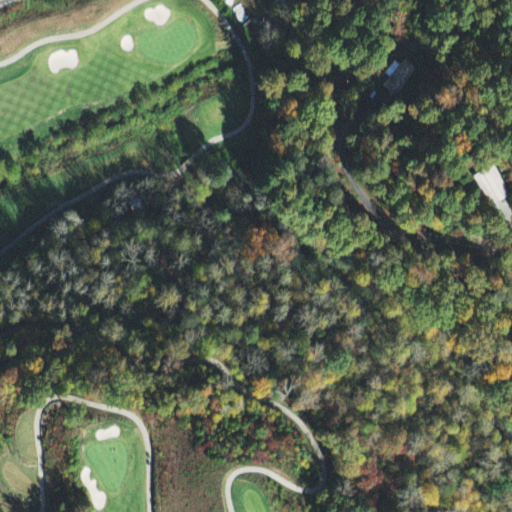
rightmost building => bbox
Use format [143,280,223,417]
[474,166,505,202]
